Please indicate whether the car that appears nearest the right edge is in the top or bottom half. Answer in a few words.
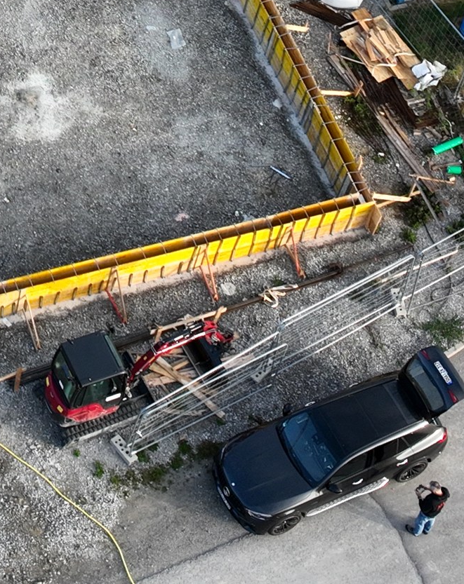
bottom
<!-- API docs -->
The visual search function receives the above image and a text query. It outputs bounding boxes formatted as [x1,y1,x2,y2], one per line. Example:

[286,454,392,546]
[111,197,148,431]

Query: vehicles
[32,316,233,452]
[211,339,464,531]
